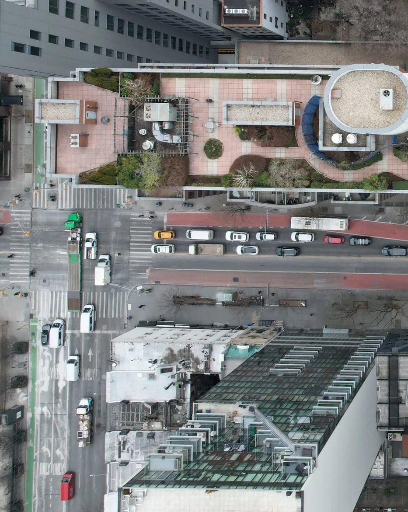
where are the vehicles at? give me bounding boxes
[350,236,371,246]
[290,217,348,230]
[237,245,259,255]
[94,255,110,286]
[65,210,82,309]
[82,306,95,329]
[68,357,80,380]
[293,232,314,242]
[78,400,93,449]
[49,319,65,348]
[190,243,221,256]
[152,244,174,254]
[229,232,249,242]
[278,246,299,256]
[60,472,75,503]
[385,246,406,256]
[84,233,97,258]
[187,230,214,240]
[325,235,343,244]
[154,230,175,240]
[256,232,278,241]
[39,324,50,346]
